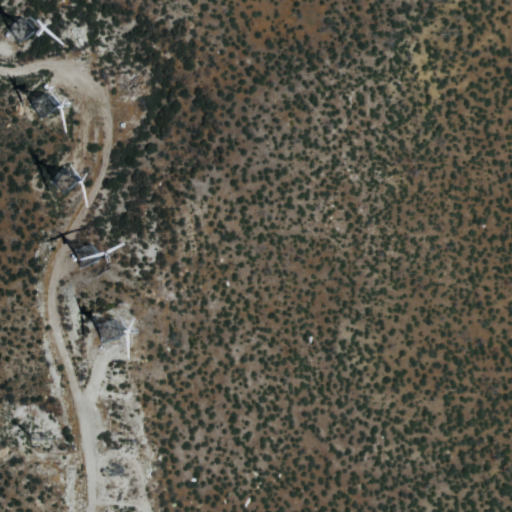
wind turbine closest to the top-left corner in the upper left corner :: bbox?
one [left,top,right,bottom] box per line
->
[11,18,66,48]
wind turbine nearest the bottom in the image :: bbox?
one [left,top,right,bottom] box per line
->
[99,316,140,359]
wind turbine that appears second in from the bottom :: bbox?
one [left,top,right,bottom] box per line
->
[74,244,125,270]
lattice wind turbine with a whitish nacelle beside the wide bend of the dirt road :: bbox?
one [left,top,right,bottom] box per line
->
[30,92,72,134]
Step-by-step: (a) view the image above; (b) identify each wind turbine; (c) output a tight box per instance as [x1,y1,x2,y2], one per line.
[50,167,92,209]
[11,18,66,48]
[30,92,72,134]
[74,244,125,270]
[99,316,140,359]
